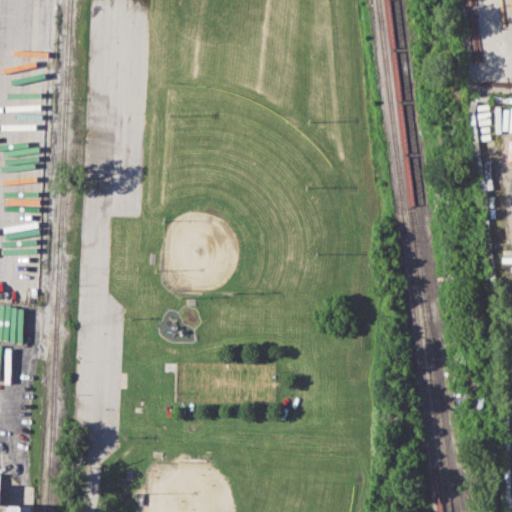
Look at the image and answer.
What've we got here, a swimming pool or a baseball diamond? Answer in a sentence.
The one in the frame is a baseball diamond.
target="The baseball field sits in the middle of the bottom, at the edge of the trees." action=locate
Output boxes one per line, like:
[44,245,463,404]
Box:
[134,348,364,512]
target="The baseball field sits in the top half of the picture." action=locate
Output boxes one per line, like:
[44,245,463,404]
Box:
[160,78,378,295]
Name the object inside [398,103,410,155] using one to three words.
rail car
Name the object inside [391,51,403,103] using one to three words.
rail car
